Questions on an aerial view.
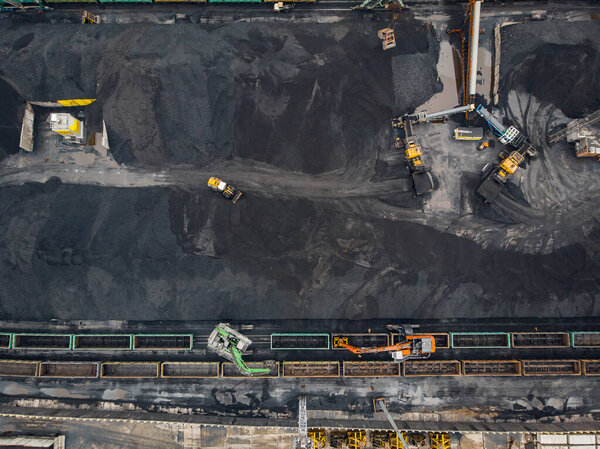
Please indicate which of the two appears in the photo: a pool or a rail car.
rail car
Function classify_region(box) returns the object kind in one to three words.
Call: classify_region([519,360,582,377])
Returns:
rail car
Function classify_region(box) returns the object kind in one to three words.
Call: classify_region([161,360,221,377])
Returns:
rail car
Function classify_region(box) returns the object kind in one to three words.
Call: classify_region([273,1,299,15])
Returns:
vehicle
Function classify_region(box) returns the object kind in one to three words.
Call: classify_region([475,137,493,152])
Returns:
work vehicle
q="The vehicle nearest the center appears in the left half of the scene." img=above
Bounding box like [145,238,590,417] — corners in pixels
[205,177,242,208]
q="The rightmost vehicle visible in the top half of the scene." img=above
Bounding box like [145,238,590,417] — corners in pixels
[547,107,600,161]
